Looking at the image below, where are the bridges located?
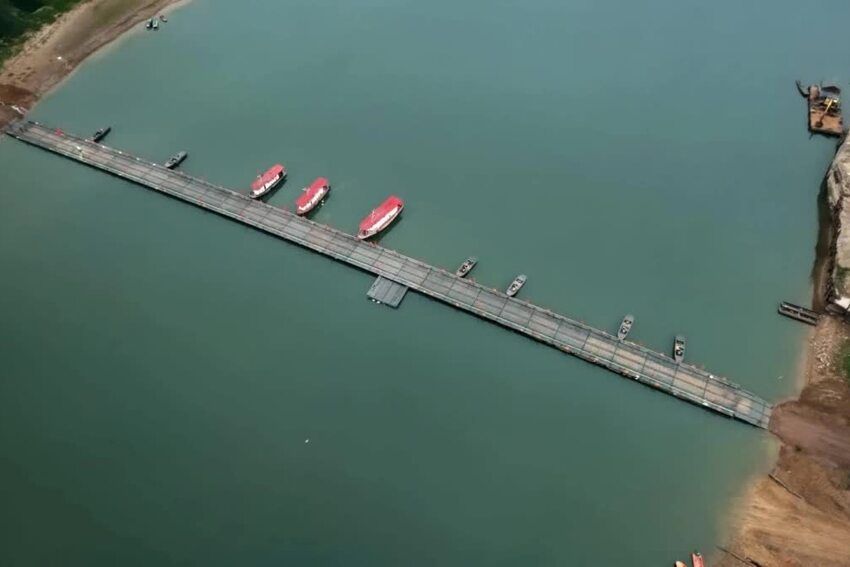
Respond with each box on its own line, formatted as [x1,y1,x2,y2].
[0,115,775,431]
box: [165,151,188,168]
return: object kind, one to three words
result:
boat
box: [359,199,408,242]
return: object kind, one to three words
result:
boat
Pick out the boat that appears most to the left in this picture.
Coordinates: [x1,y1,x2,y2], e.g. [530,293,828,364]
[91,128,111,143]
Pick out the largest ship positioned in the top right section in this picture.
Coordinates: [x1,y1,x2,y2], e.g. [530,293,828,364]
[795,81,845,140]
